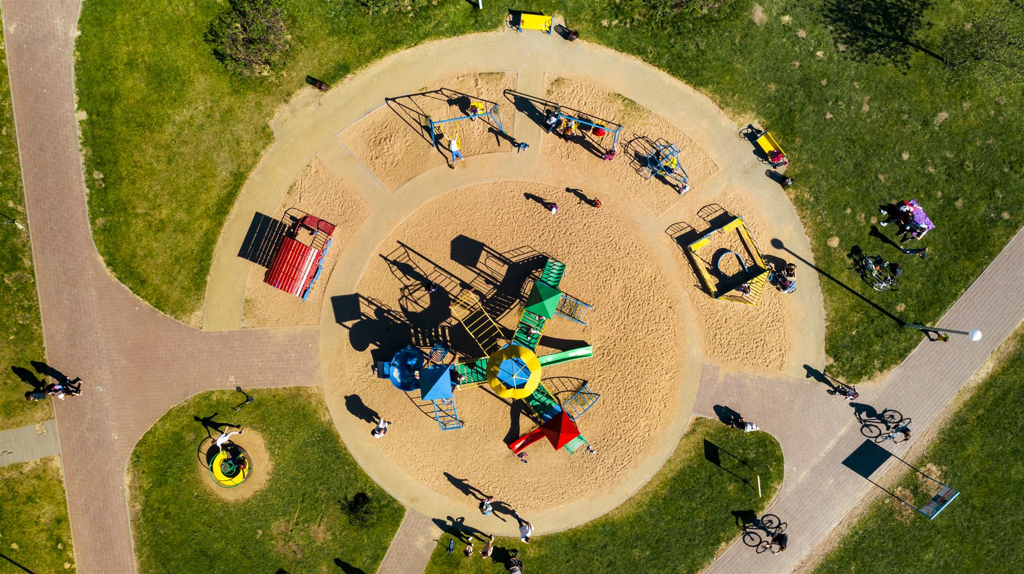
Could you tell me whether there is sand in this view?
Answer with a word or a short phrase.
Yes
